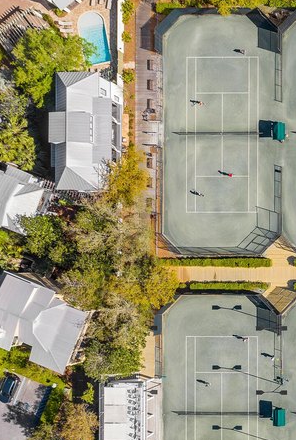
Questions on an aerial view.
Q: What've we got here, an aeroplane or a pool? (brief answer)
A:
pool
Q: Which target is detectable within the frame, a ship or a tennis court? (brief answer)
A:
tennis court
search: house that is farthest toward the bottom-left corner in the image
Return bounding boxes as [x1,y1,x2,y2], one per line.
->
[0,274,98,374]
